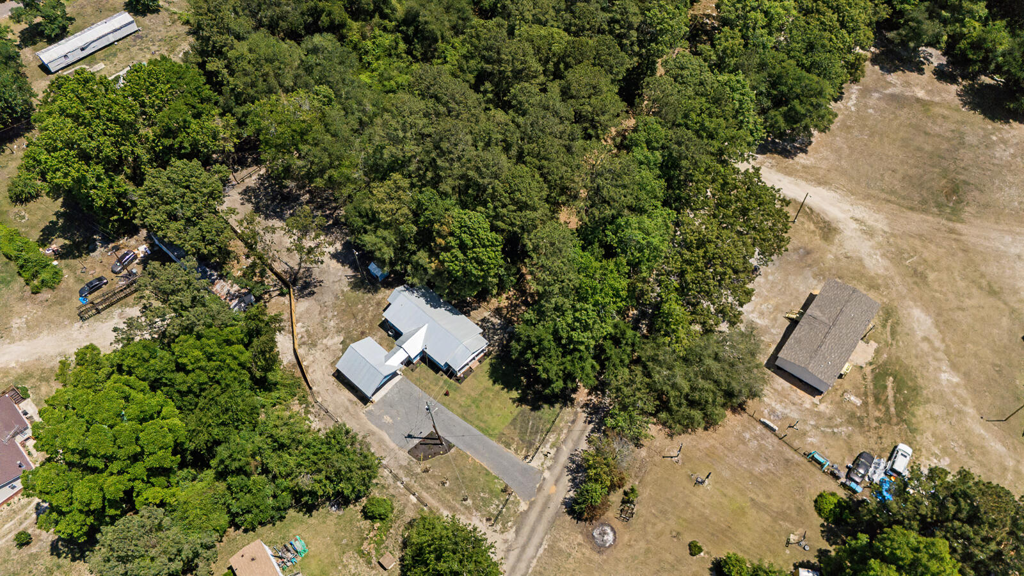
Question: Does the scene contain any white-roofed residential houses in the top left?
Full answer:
Yes, a white-roofed residential house can be seen in the top left.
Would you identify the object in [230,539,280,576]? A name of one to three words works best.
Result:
house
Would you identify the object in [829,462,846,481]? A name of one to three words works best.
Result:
work vehicle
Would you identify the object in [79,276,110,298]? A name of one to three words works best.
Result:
car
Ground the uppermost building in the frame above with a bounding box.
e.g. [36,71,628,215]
[36,12,144,73]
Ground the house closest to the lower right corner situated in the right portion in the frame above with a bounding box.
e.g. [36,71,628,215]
[775,278,881,397]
